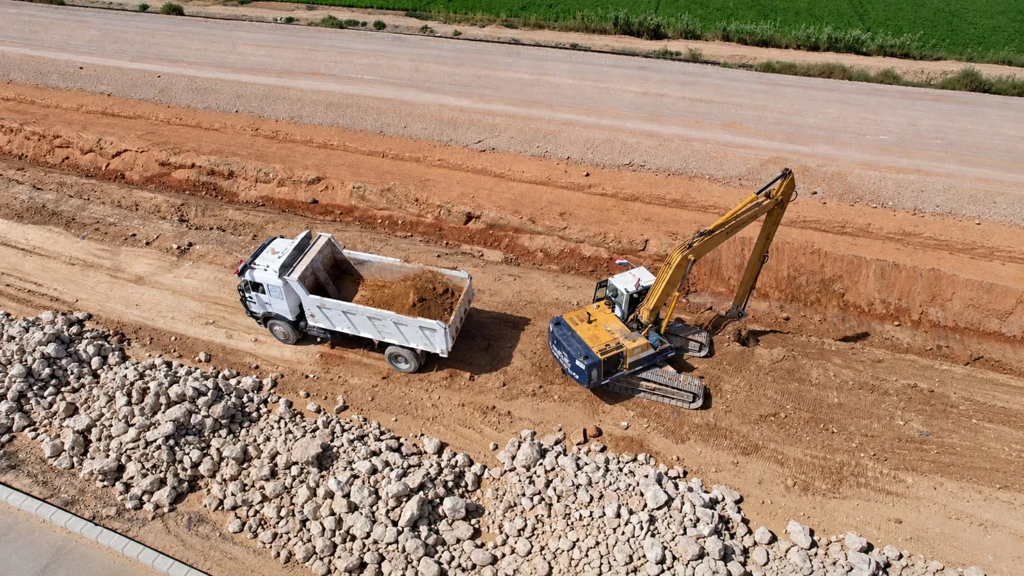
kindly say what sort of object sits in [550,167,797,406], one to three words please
work vehicle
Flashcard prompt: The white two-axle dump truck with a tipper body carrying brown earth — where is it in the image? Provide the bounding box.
[229,230,476,371]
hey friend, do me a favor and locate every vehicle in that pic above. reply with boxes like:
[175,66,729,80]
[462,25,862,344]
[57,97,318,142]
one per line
[229,230,476,371]
[550,167,797,406]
